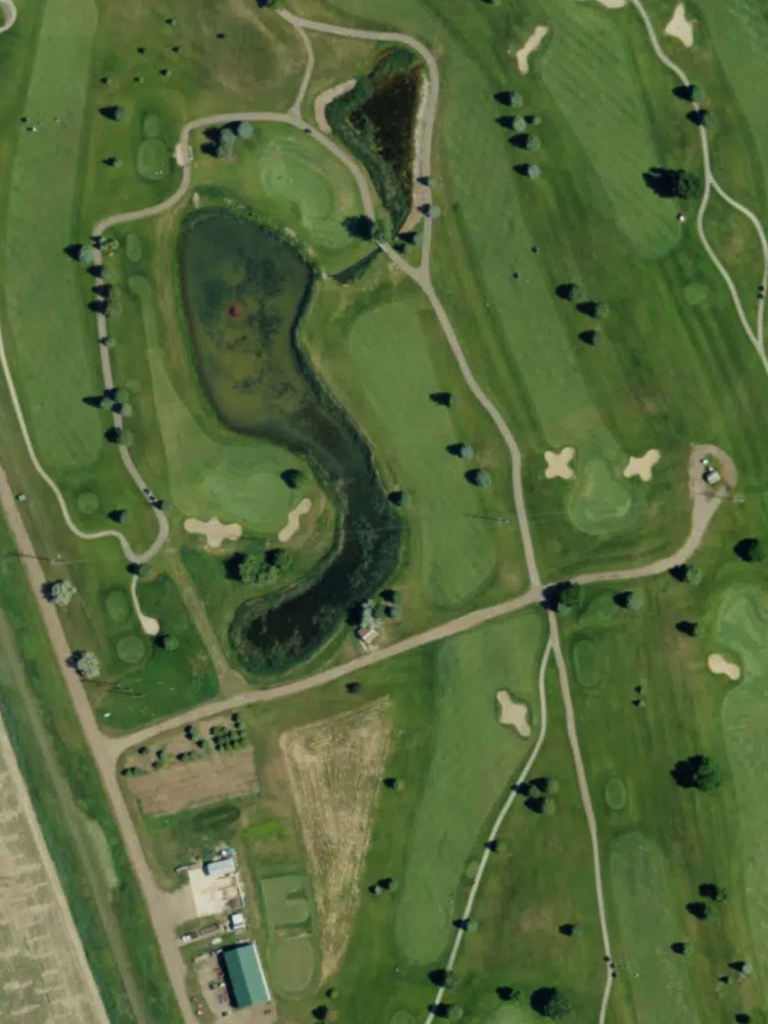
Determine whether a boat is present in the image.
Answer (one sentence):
No, the scene contains no boat.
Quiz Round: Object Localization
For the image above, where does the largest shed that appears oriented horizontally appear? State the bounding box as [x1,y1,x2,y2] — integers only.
[208,859,236,875]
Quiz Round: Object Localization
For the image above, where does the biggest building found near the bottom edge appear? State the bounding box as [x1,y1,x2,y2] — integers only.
[223,944,268,1008]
